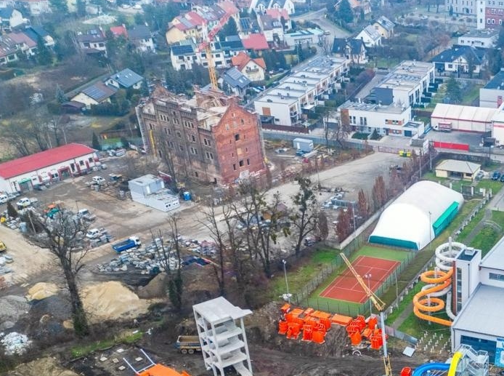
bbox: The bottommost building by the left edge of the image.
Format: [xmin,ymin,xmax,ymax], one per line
[0,142,100,193]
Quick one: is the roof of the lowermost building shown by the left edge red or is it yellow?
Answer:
red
